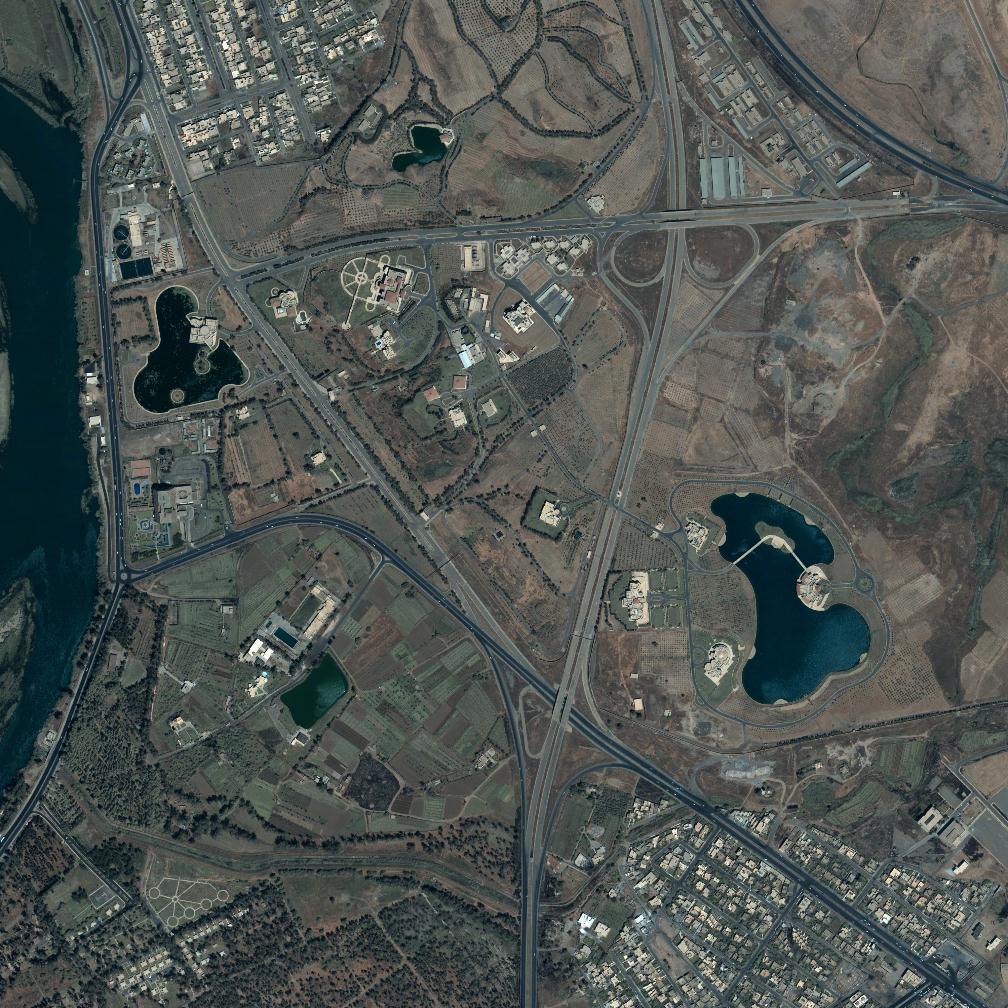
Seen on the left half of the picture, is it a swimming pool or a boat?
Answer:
swimming pool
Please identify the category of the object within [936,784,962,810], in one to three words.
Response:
building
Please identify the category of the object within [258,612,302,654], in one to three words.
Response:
swimming pool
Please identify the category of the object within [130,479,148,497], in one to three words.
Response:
swimming pool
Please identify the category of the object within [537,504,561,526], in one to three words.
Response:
house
